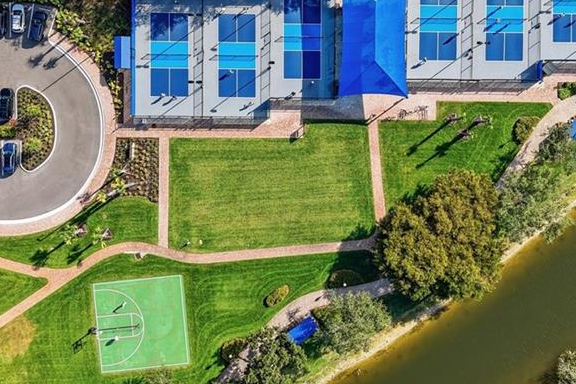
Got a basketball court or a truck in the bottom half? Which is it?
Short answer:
basketball court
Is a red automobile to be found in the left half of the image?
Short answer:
No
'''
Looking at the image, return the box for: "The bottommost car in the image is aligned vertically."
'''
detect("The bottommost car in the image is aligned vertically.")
[2,142,18,173]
